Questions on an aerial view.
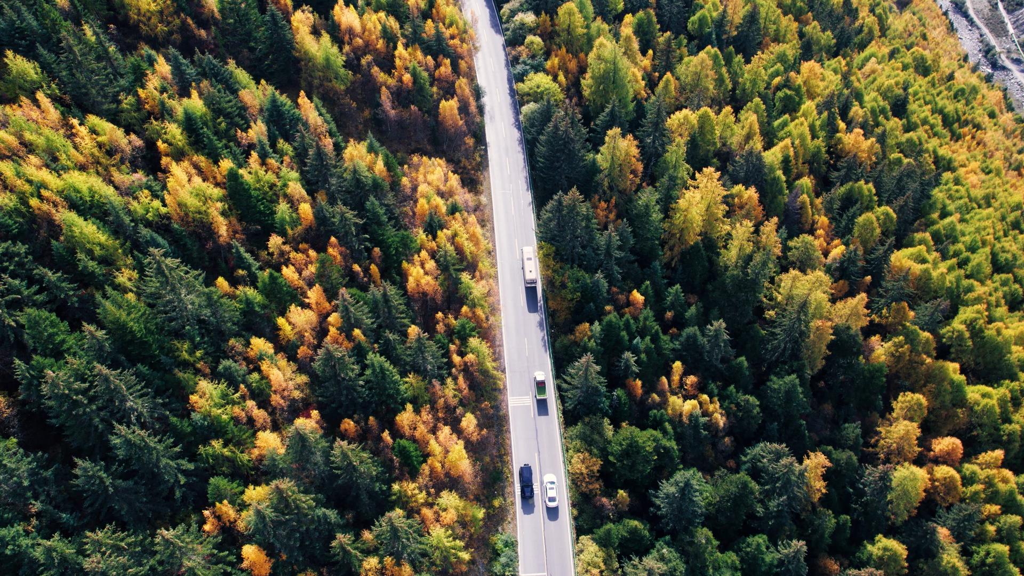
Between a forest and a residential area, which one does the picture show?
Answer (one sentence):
The area seen from above is a forest.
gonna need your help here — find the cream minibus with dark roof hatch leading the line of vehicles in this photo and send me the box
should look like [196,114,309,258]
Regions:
[520,247,537,286]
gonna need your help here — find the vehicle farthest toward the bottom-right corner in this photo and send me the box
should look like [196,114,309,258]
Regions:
[543,471,559,505]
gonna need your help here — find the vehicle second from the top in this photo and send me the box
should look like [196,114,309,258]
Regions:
[533,371,549,399]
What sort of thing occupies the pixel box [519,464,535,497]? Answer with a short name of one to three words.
car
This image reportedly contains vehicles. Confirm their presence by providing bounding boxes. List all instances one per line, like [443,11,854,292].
[533,371,549,399]
[519,464,535,497]
[520,247,537,286]
[543,471,559,505]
